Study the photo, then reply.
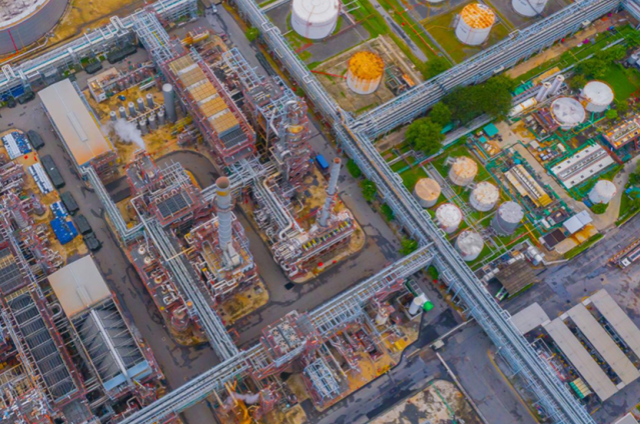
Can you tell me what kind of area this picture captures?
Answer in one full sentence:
It's an industrial area.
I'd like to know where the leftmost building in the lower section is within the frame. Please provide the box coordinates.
[47,254,110,315]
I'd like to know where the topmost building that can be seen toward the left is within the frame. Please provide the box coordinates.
[87,72,119,105]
